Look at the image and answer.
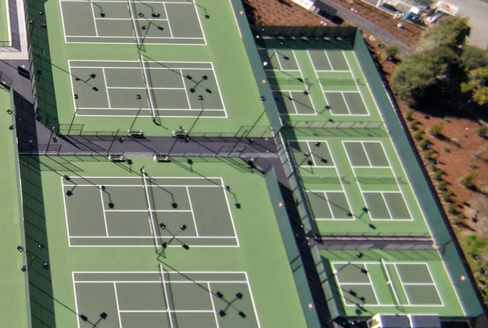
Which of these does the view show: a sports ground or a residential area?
sports ground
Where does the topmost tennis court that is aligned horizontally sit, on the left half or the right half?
left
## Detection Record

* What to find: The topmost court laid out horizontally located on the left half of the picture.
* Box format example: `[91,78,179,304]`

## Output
[59,0,207,44]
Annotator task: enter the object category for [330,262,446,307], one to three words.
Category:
sports court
